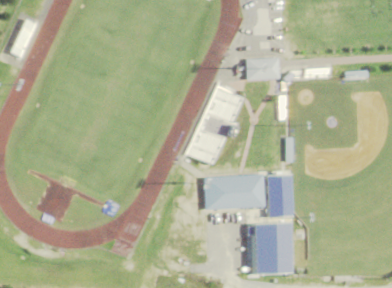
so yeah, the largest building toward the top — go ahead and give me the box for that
[245,58,280,82]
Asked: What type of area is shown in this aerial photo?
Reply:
sports ground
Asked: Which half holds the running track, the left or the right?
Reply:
left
